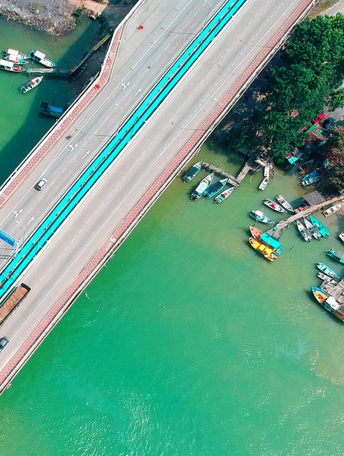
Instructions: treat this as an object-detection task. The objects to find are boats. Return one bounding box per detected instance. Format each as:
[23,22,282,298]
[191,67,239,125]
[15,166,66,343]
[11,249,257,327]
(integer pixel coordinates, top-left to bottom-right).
[314,262,341,279]
[39,103,67,119]
[248,237,279,264]
[18,75,44,94]
[191,171,216,202]
[3,54,30,64]
[247,210,276,224]
[325,250,344,264]
[276,194,296,213]
[316,273,336,283]
[257,176,270,192]
[205,178,229,200]
[262,199,288,213]
[309,214,329,238]
[303,217,320,242]
[214,186,236,205]
[300,169,322,182]
[310,283,344,323]
[183,160,203,184]
[2,48,31,59]
[0,60,26,71]
[296,219,310,243]
[30,51,57,66]
[249,224,285,257]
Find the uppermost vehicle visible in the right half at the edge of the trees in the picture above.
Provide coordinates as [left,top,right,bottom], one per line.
[325,116,337,129]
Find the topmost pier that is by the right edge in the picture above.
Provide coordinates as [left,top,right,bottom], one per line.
[270,195,344,235]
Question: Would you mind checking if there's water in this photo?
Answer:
Yes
